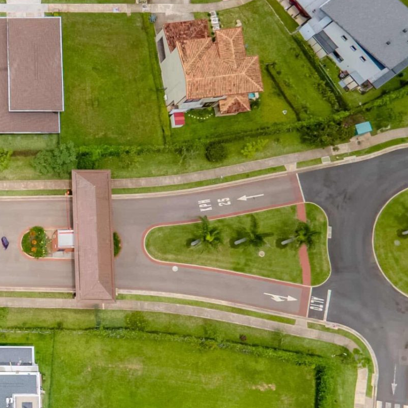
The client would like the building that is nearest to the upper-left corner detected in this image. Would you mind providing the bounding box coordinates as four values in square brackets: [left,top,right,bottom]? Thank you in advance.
[0,18,63,136]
